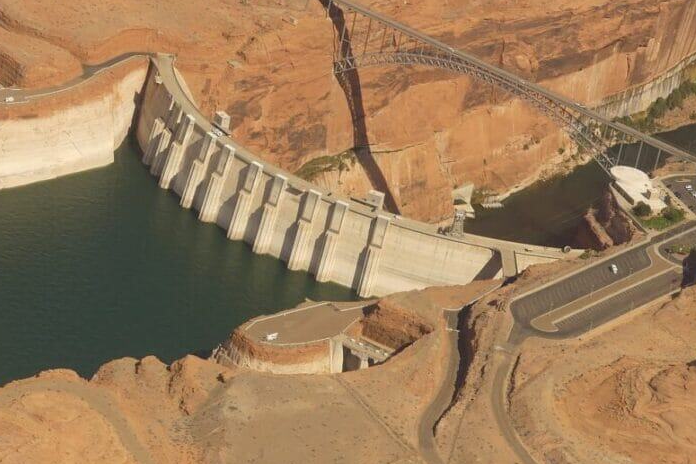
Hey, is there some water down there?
Yes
